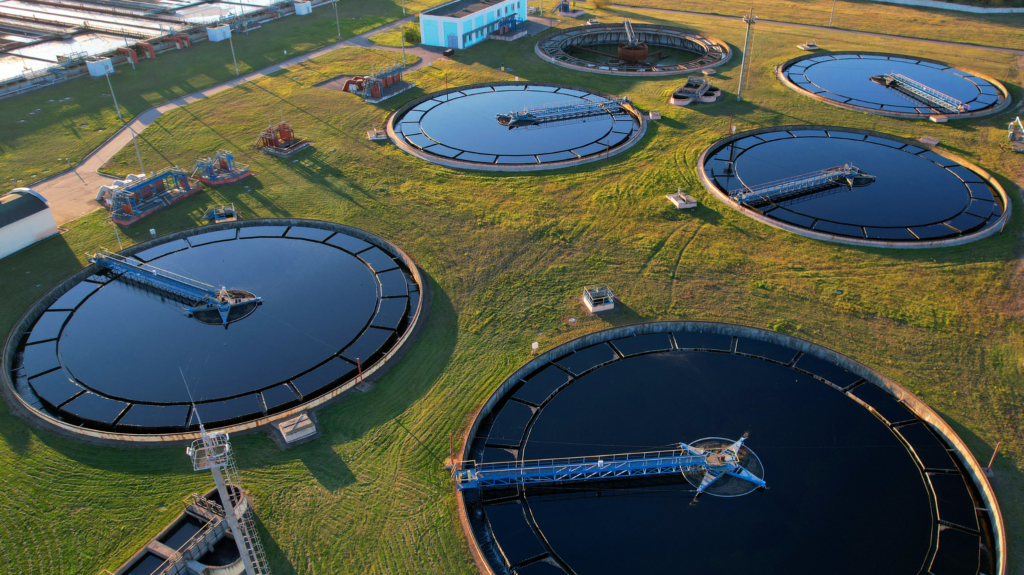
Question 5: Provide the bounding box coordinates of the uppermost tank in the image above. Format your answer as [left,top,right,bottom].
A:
[533,22,734,78]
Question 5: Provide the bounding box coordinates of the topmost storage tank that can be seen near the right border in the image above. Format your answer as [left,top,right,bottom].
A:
[774,51,1014,121]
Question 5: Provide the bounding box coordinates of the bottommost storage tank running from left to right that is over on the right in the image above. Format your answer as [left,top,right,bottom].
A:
[450,321,1015,575]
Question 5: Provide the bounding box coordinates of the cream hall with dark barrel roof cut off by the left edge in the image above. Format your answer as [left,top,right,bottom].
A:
[0,182,62,262]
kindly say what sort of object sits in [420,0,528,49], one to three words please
building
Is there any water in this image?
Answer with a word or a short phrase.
Yes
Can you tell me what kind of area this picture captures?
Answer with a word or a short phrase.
industrial area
